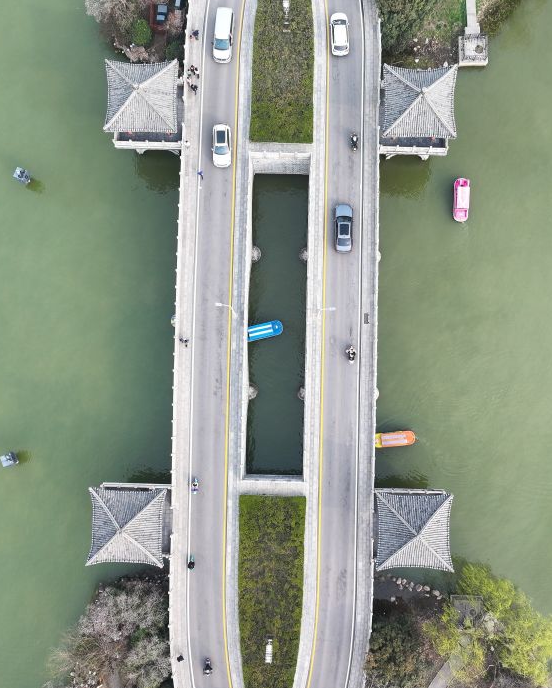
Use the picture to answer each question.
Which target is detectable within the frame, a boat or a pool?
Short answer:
boat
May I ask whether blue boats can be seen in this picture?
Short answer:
Yes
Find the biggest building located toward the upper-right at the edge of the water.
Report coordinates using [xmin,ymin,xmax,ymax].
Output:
[380,63,457,153]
